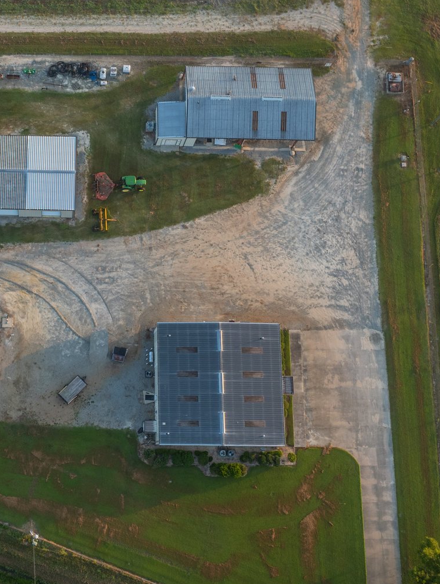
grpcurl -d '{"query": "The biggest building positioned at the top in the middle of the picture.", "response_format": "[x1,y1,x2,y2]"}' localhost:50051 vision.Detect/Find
[160,65,317,152]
